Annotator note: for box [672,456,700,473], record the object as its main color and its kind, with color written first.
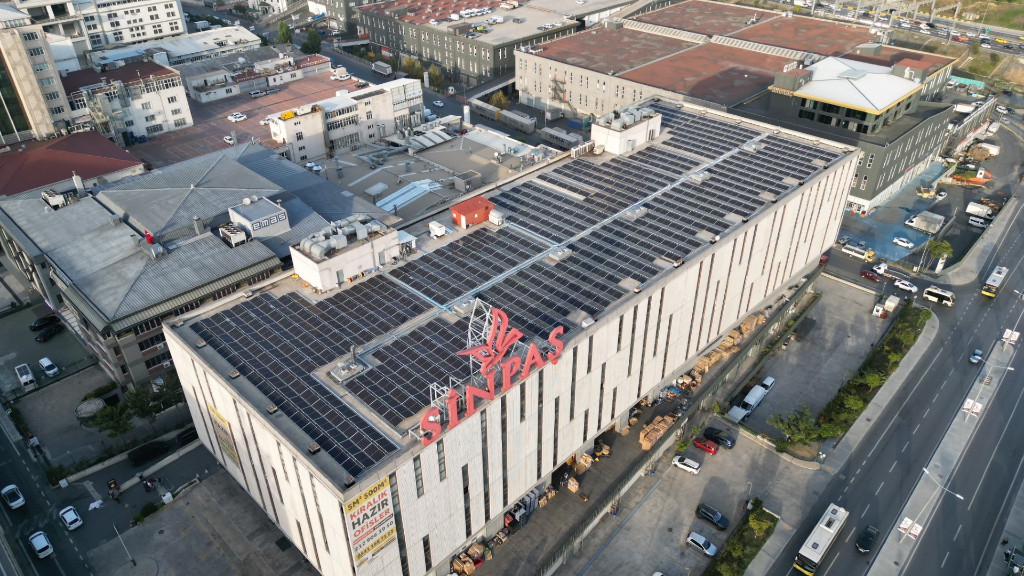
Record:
white car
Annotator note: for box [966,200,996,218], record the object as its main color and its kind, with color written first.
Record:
white vehicle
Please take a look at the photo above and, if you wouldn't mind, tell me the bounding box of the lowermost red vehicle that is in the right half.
[693,437,718,454]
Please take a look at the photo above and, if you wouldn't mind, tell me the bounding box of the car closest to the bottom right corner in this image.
[856,521,885,552]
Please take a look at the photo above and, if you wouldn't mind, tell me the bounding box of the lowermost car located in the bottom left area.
[26,528,54,559]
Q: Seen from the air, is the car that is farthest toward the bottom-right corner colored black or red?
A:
black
